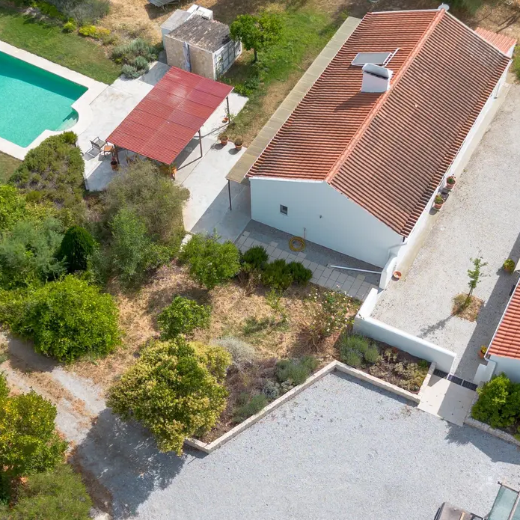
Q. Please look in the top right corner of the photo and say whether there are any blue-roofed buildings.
No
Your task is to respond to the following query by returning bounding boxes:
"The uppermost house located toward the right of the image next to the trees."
[244,6,519,278]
